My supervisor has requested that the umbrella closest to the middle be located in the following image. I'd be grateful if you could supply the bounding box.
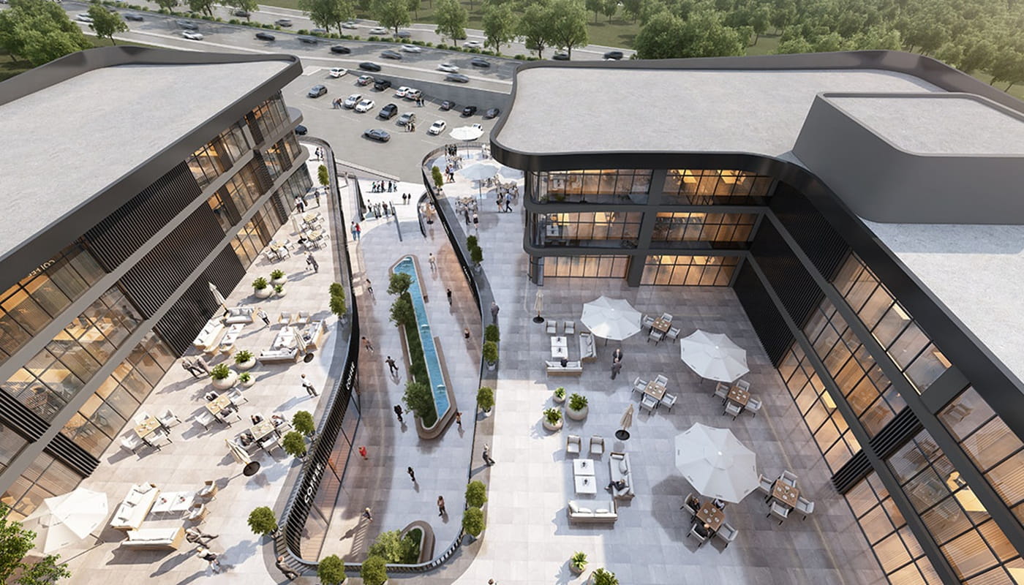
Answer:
[532,289,545,325]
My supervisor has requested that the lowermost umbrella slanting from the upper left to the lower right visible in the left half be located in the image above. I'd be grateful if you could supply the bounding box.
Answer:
[227,438,261,478]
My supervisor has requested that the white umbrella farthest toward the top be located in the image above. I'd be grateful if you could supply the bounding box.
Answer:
[450,130,483,144]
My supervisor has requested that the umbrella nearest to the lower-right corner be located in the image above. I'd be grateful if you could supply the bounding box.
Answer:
[670,423,760,507]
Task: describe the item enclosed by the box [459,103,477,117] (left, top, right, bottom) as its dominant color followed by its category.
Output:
black car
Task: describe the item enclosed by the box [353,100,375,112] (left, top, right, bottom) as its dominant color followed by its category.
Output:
white vehicle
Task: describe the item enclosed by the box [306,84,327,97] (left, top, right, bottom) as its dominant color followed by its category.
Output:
gray vehicle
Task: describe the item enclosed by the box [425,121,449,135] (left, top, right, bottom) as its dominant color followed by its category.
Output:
white car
